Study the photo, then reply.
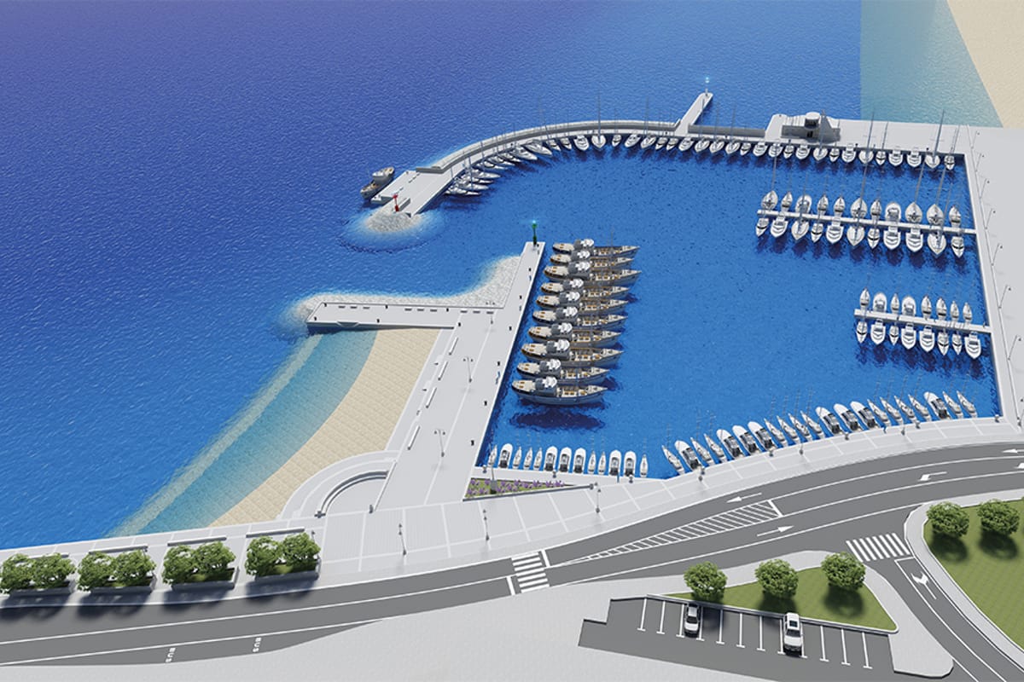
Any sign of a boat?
Yes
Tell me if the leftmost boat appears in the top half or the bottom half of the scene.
top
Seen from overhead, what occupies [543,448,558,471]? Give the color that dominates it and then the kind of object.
white boat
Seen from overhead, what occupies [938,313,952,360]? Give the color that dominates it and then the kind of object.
white boat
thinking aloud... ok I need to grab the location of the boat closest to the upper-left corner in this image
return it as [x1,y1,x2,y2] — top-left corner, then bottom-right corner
[361,163,398,202]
